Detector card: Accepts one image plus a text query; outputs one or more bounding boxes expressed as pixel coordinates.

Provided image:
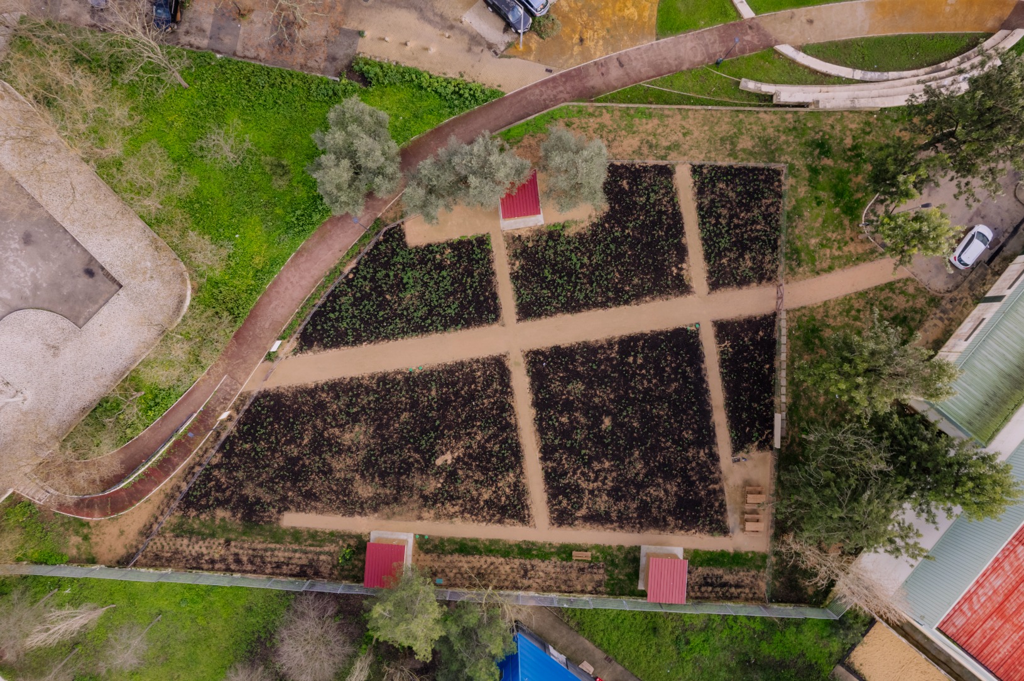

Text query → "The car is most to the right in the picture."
[957,223,996,269]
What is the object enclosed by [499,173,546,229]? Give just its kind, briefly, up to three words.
shed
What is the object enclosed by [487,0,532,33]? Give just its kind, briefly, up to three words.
car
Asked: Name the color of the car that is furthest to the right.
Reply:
white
